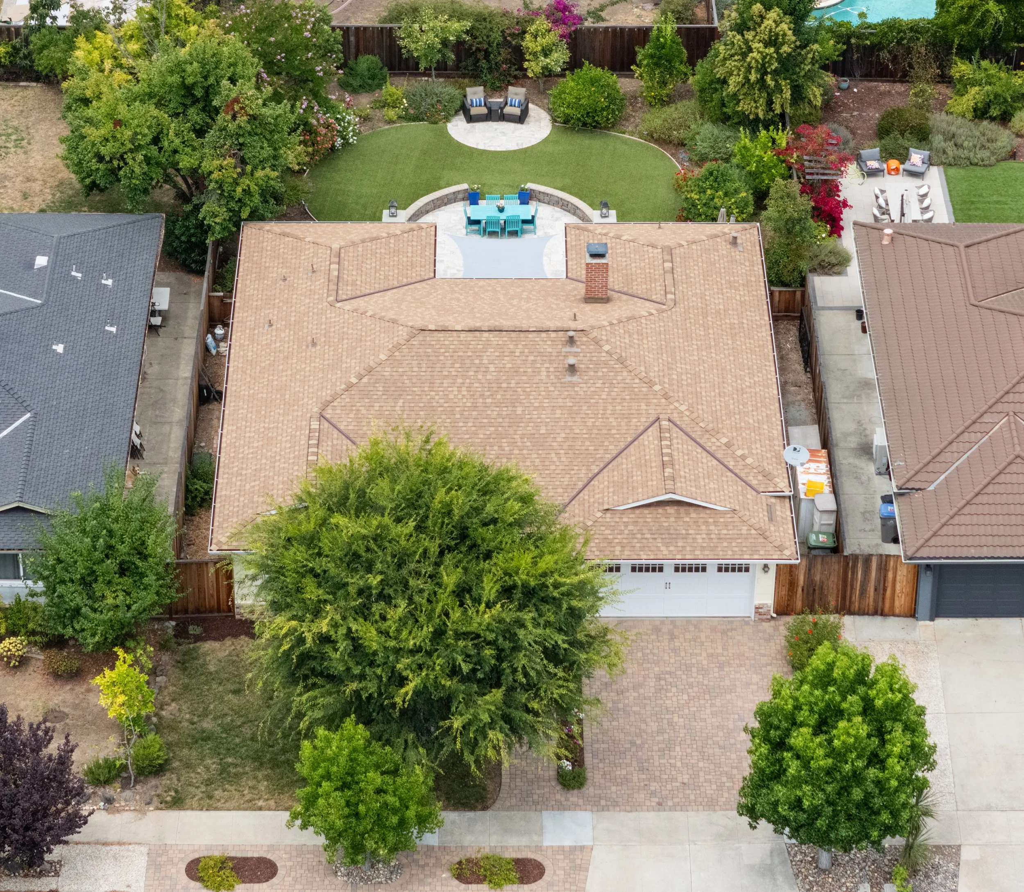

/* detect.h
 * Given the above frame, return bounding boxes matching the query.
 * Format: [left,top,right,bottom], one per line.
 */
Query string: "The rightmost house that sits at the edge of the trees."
[848,218,1024,615]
